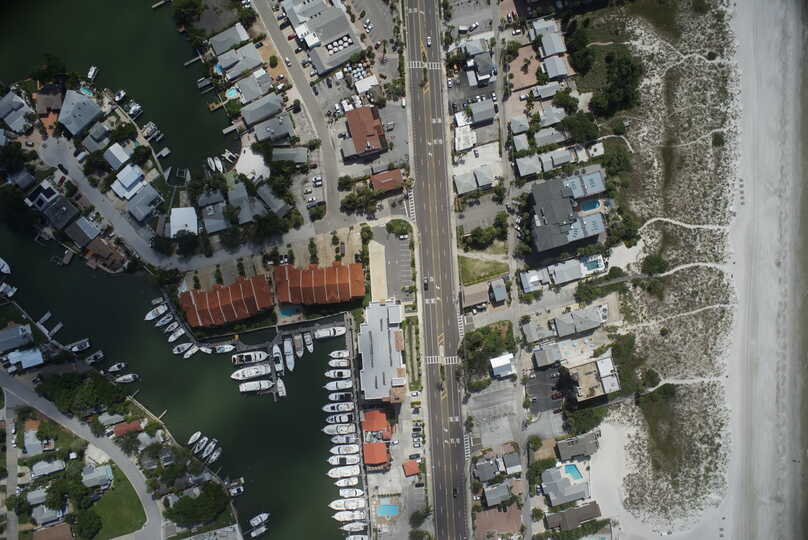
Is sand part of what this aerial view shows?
Yes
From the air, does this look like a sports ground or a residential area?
residential area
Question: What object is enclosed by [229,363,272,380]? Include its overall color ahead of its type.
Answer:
white boat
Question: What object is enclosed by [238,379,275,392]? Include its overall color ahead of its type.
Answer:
white boat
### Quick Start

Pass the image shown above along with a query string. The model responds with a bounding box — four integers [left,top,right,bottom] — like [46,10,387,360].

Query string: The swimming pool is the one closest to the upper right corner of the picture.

[580,198,602,212]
